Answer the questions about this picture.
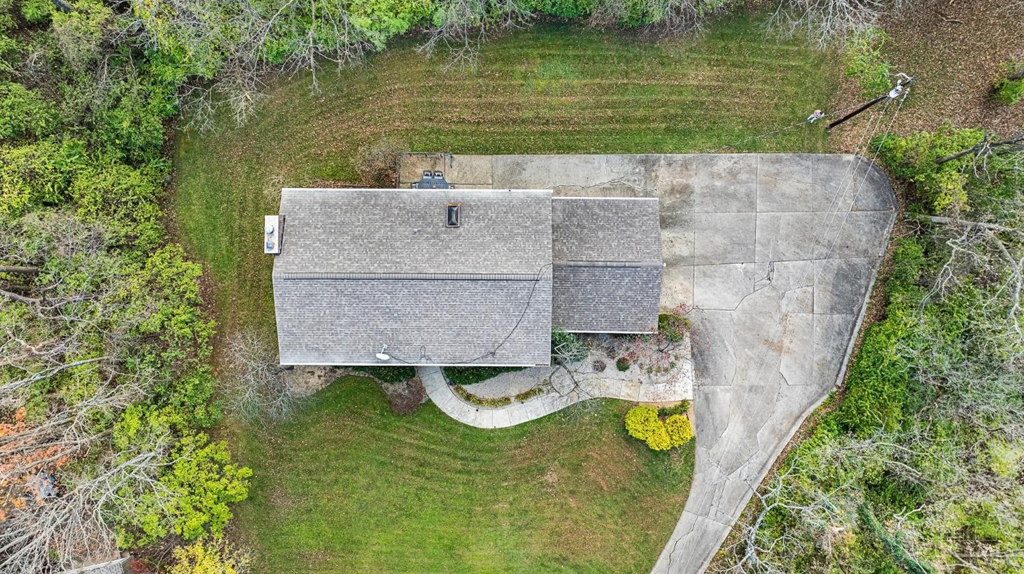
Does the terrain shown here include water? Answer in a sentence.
No, water can't be seen anywhere here.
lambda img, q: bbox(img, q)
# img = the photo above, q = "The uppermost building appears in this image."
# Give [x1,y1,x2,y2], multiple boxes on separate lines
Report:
[265,186,667,368]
